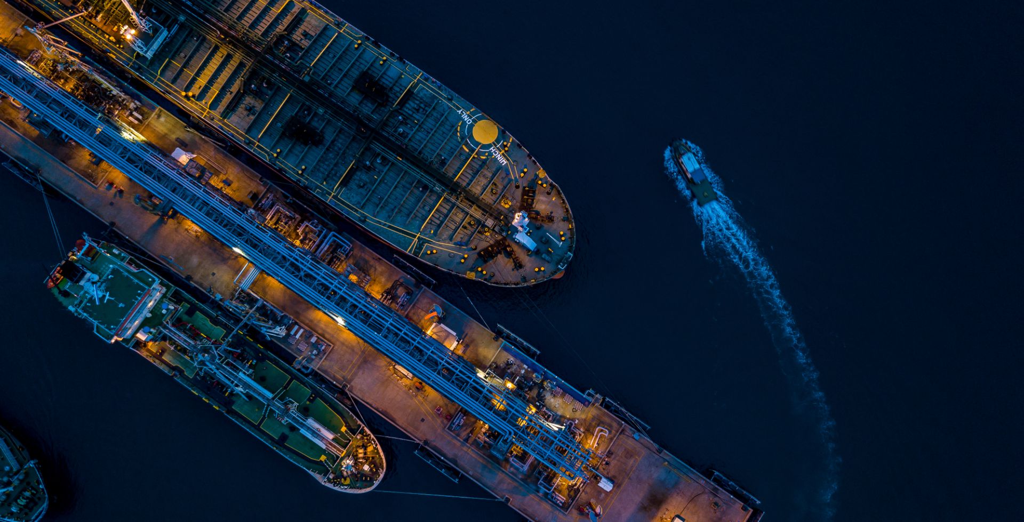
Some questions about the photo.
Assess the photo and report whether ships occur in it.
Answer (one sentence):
Yes, I can see a ship in this picture.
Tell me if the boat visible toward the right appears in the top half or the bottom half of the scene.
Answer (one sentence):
It is in the top half that the boat visible toward the right appears.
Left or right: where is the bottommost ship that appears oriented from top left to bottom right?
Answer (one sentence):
The bottommost ship that appears oriented from top left to bottom right sits on the left side.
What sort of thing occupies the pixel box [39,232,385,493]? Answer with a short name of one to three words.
ship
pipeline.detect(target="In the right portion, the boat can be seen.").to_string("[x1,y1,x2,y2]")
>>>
[675,138,715,206]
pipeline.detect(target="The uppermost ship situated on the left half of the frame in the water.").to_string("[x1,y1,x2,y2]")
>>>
[21,0,574,286]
